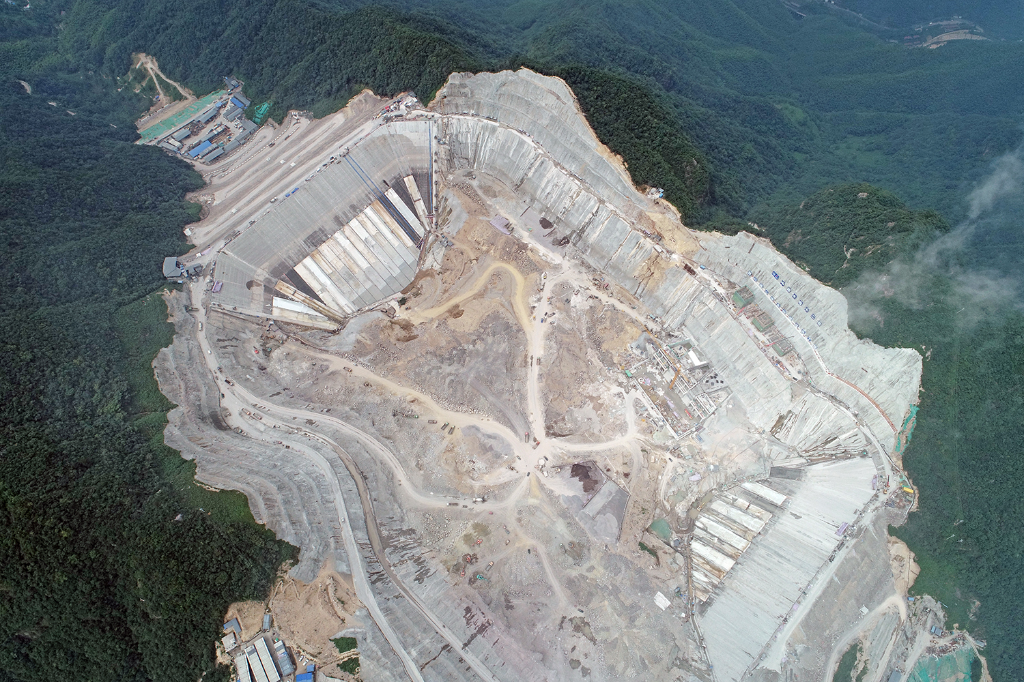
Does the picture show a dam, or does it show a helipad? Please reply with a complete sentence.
Of the two, only a dam appears.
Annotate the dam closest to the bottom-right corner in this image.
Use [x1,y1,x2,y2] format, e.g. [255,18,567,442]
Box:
[689,455,918,682]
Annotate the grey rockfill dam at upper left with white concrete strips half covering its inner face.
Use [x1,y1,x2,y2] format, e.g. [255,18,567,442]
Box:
[180,88,438,332]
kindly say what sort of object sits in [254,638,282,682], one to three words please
shed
